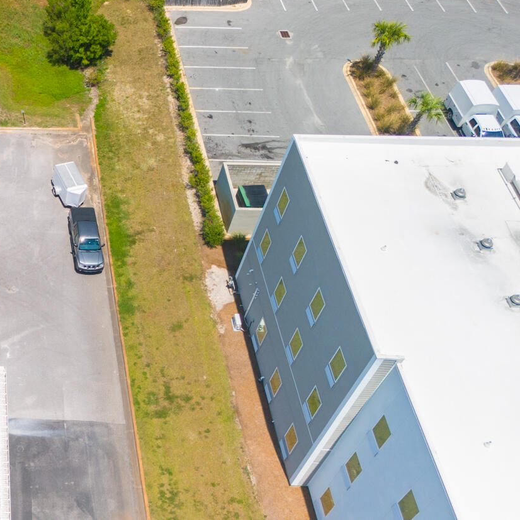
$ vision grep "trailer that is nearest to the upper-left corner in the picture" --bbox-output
[50,157,89,205]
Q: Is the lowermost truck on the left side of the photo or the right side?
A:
left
